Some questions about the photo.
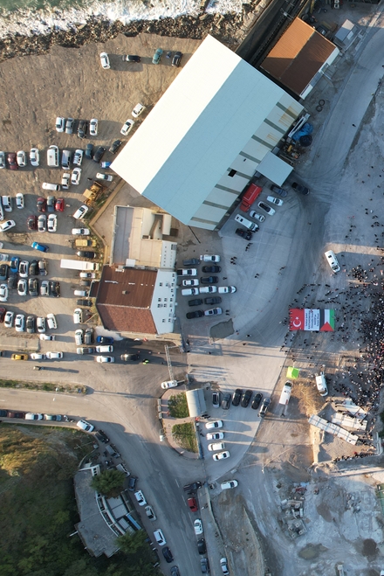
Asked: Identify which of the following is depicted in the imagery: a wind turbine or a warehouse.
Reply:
warehouse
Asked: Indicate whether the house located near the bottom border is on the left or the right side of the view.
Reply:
left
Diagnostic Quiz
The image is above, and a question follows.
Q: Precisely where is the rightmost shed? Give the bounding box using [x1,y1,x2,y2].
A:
[334,19,357,44]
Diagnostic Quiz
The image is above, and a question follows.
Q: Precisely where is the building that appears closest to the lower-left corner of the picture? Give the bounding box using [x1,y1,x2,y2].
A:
[70,461,146,558]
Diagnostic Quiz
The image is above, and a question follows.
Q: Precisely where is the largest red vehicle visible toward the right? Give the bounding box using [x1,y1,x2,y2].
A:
[240,183,265,212]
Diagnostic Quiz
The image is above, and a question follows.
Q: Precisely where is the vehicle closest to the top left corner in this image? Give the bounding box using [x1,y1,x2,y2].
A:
[99,52,113,71]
